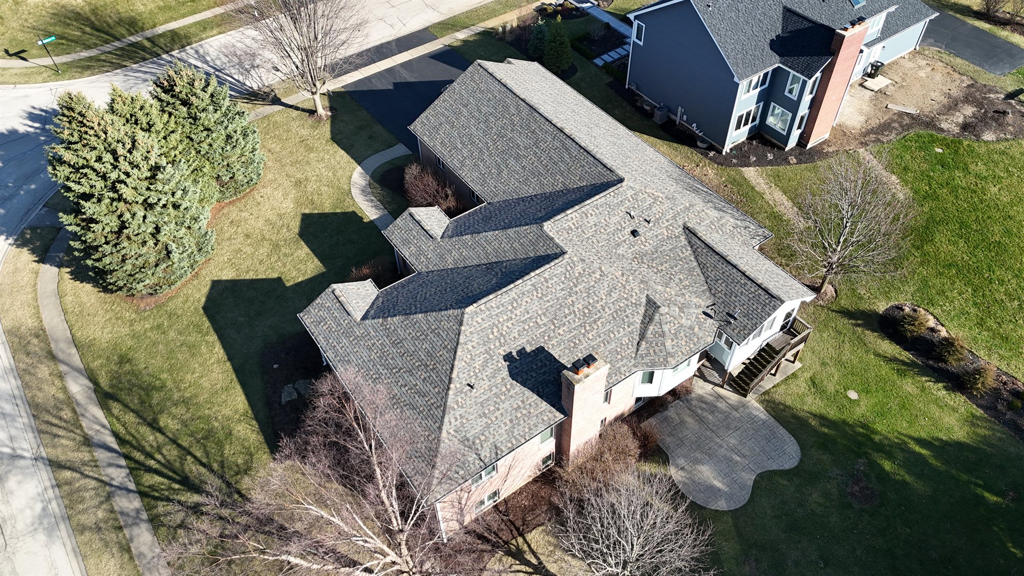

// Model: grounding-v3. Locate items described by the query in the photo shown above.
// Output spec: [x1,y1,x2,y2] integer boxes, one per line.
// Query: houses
[624,0,941,156]
[297,58,817,541]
